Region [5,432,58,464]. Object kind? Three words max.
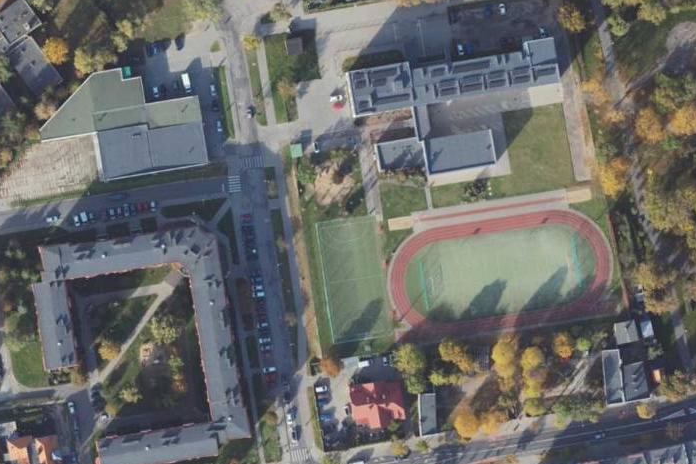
house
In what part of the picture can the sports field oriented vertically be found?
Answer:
center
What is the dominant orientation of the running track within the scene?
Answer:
from left to right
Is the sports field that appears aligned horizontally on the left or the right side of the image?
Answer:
right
